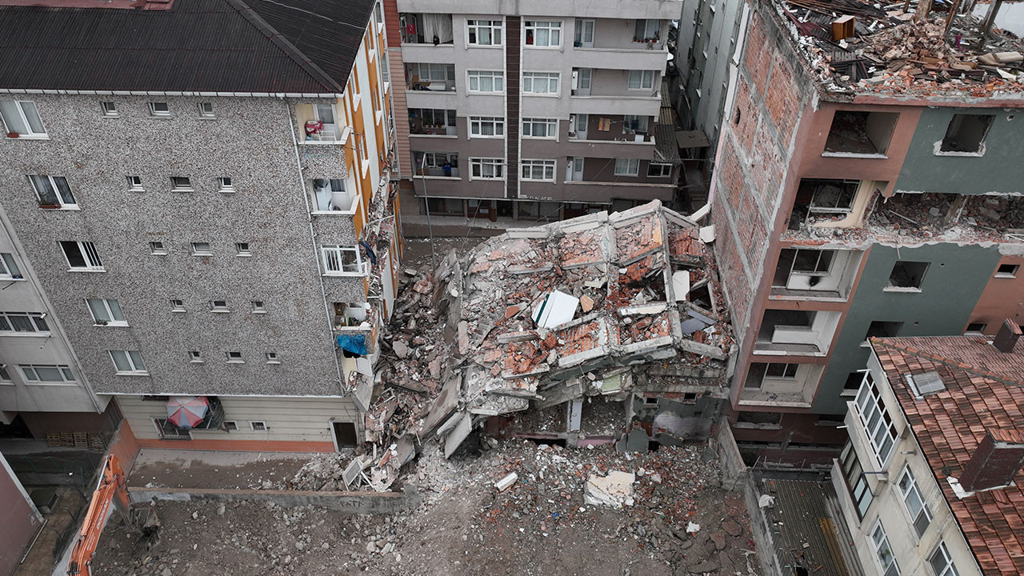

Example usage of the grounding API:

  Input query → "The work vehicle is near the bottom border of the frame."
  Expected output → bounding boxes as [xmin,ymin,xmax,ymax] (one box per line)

[71,454,166,576]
